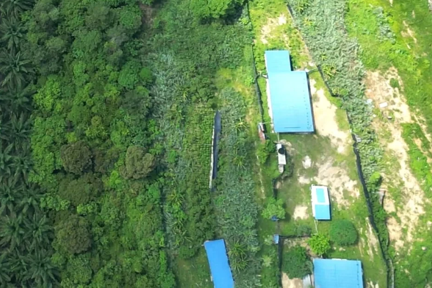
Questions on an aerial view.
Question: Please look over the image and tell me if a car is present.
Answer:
No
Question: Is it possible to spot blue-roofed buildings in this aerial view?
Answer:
Yes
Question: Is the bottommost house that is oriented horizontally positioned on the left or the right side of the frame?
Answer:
right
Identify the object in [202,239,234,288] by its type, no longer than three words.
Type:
house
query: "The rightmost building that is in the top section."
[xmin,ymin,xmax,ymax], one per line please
[263,50,314,133]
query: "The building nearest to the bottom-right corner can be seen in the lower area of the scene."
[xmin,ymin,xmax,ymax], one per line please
[297,259,364,288]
